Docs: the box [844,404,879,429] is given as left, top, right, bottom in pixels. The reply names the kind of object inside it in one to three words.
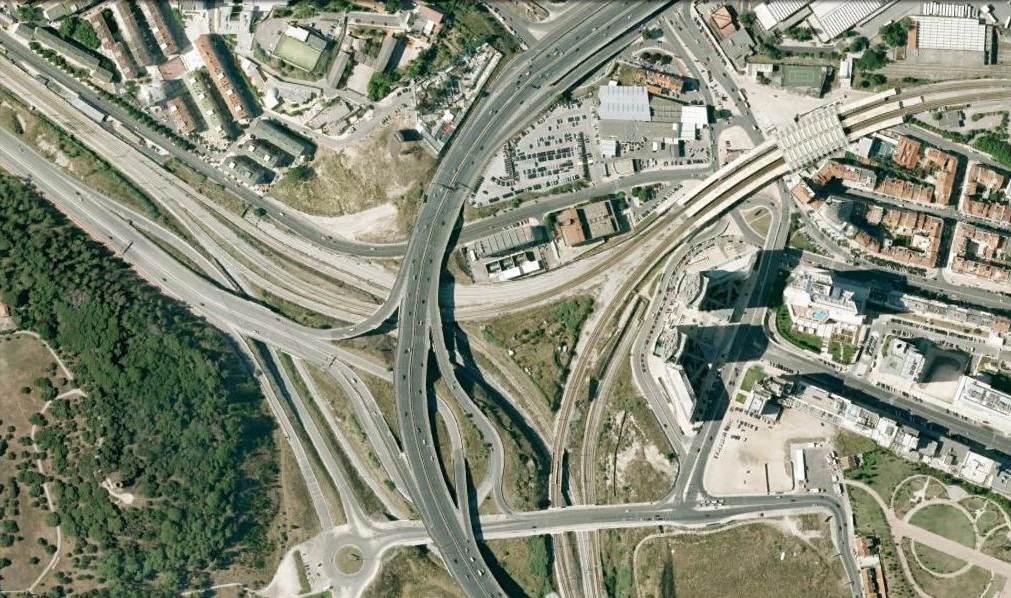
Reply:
building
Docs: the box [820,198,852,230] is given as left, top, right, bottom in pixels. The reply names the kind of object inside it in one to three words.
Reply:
building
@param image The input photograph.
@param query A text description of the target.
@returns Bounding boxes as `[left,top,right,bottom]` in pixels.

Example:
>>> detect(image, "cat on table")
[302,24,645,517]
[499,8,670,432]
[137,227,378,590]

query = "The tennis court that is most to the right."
[781,65,826,92]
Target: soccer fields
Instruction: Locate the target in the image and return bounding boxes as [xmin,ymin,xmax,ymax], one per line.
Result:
[272,35,323,75]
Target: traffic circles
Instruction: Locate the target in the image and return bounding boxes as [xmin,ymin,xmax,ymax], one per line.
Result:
[320,532,376,587]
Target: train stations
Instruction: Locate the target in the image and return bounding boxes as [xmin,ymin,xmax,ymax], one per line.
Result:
[633,75,1011,266]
